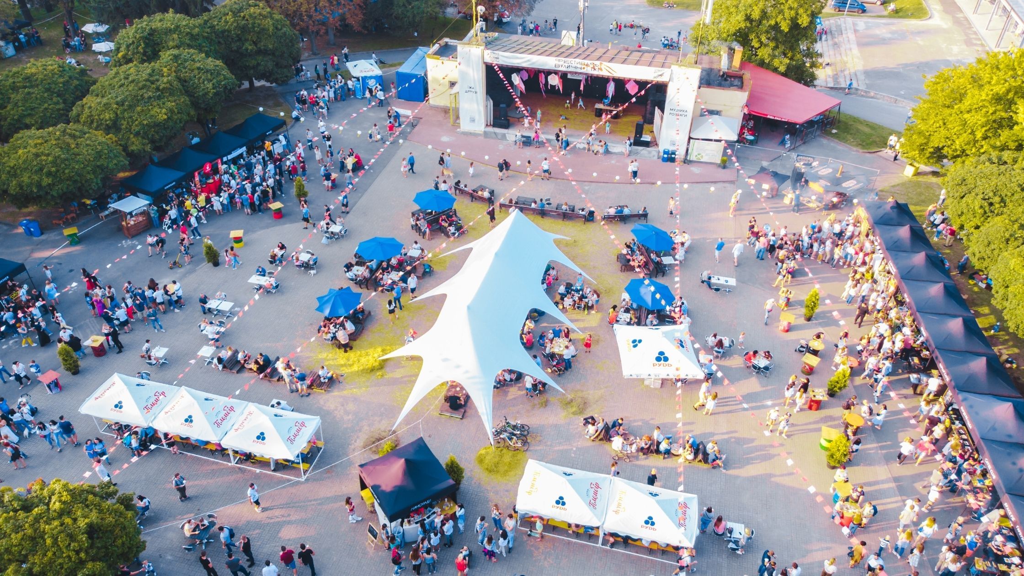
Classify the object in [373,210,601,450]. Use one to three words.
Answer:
tent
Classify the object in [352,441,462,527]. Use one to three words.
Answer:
tent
